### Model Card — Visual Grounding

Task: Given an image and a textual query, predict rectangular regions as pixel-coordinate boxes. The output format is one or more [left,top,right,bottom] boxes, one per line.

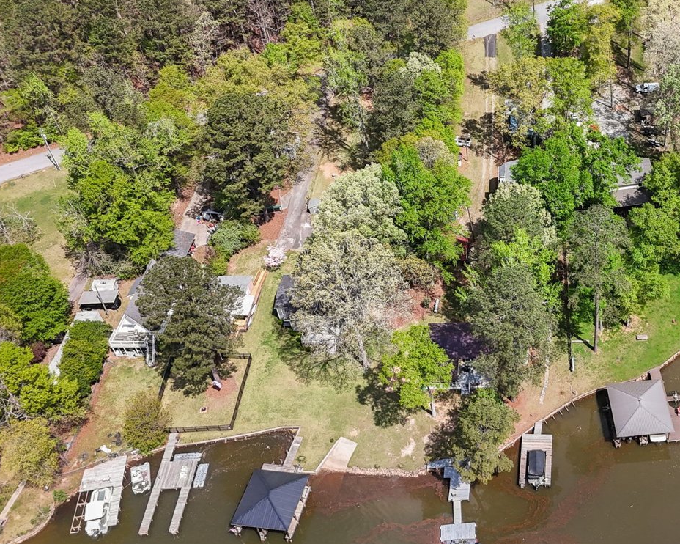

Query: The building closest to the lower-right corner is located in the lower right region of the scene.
[604,379,677,457]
